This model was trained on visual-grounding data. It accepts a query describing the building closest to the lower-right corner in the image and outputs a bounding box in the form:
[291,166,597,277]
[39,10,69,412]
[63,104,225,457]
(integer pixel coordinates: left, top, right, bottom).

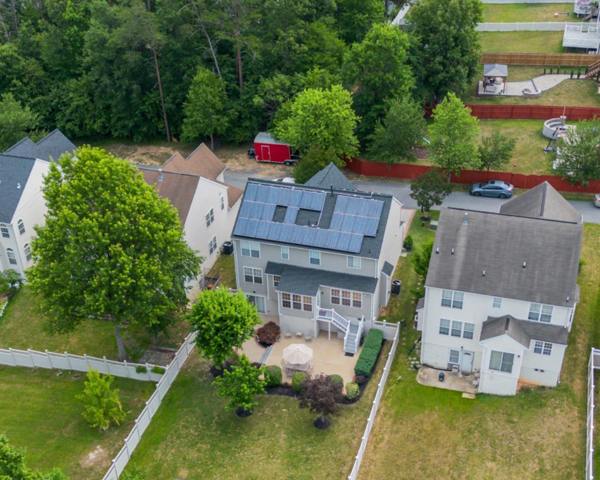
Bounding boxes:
[414,181,585,395]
